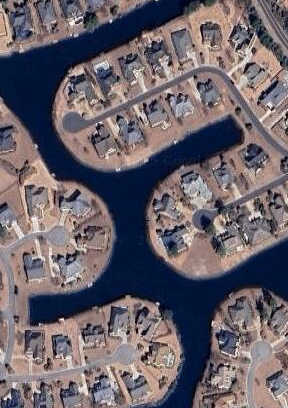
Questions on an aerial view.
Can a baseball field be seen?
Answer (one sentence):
No, there isn't any baseball field down there.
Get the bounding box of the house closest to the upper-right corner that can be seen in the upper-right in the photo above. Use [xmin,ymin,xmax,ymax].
[226,27,255,56]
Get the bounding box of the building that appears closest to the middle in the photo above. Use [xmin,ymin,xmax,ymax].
[152,190,183,221]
